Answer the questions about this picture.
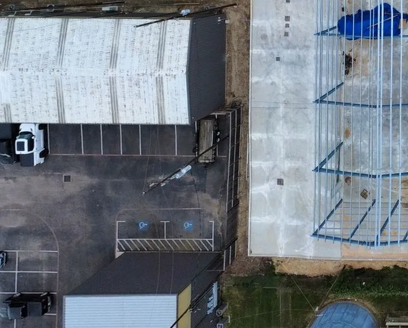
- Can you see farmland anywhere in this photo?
No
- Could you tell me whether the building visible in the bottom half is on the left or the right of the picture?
left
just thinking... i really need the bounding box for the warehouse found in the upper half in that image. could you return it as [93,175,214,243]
[0,9,225,126]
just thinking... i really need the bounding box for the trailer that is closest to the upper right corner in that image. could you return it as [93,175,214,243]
[193,118,219,172]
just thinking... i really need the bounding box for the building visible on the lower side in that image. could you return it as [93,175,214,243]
[59,249,222,328]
